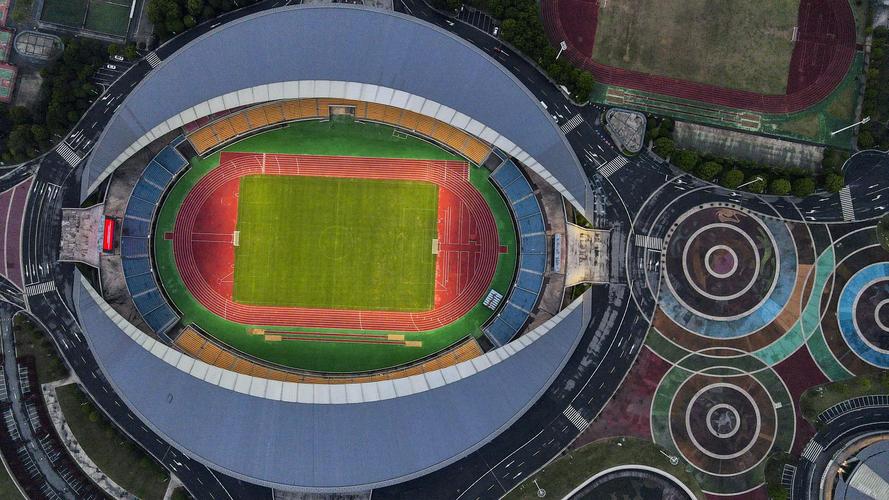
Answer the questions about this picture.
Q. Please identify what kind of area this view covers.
sports ground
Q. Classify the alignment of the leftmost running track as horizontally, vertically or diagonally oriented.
horizontally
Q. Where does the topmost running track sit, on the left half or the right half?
right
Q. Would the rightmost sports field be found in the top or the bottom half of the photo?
top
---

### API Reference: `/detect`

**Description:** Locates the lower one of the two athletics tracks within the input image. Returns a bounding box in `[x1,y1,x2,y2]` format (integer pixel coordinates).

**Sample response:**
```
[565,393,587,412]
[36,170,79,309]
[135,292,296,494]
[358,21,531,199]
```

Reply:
[158,153,508,332]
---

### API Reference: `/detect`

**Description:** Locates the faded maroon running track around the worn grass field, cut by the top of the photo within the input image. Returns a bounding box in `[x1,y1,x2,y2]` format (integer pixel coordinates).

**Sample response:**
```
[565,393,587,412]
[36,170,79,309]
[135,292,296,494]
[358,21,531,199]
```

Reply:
[541,0,863,105]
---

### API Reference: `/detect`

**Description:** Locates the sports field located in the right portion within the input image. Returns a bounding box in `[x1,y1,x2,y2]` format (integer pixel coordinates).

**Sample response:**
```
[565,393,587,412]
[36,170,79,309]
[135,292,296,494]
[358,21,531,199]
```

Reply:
[591,0,800,95]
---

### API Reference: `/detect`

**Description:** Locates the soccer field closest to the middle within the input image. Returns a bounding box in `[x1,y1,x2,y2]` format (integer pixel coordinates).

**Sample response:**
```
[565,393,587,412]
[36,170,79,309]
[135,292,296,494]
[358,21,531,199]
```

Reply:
[234,176,438,311]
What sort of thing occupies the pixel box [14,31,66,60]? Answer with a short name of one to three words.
sports court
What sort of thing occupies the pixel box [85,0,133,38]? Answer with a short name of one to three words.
soccer field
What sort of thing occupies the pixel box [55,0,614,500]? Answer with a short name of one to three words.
stadium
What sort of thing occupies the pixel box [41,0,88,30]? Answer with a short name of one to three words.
soccer field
